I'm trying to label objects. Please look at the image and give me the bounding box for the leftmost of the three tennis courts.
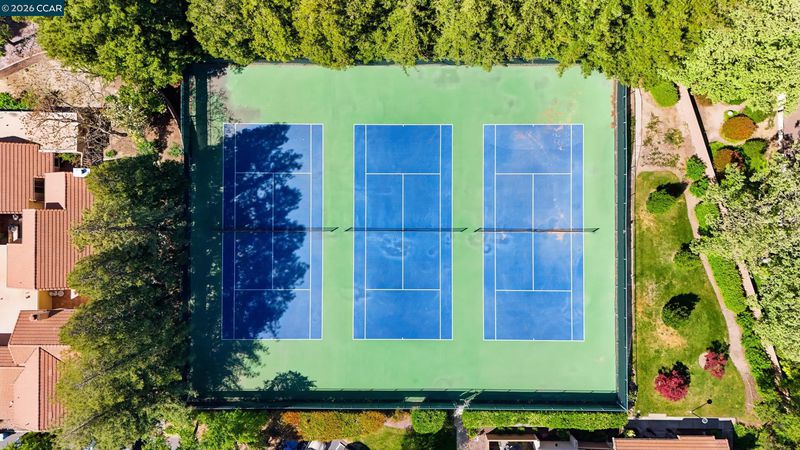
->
[223,123,323,340]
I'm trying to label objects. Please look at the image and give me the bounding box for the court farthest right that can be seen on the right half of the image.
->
[484,124,584,341]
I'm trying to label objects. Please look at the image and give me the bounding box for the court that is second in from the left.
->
[354,124,452,340]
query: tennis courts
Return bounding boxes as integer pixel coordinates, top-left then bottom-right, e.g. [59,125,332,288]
[223,123,323,340]
[484,124,584,341]
[354,124,452,340]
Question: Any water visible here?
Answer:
No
